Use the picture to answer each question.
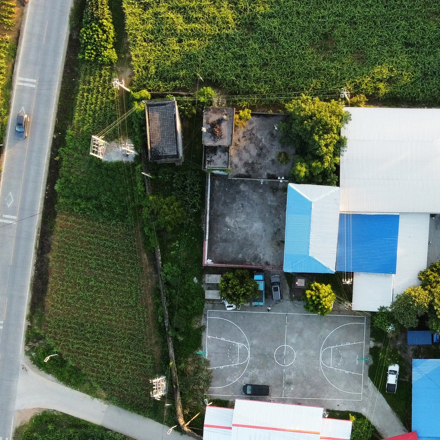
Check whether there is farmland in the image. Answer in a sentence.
Yes, the picture does contain farmland.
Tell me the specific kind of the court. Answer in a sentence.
The court can be classified as a basketball court.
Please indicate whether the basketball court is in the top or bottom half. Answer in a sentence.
It is in the bottom half that the basketball court appears.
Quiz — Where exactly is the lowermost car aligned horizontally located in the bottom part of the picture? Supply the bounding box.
[242,383,271,396]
